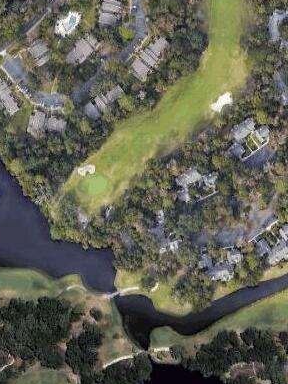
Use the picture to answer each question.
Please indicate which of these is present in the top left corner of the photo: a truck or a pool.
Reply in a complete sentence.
The one visible in the top left corner of the photo is a pool.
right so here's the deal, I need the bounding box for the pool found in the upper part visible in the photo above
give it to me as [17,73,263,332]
[56,11,82,37]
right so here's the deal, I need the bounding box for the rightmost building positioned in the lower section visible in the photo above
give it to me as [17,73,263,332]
[253,223,288,266]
